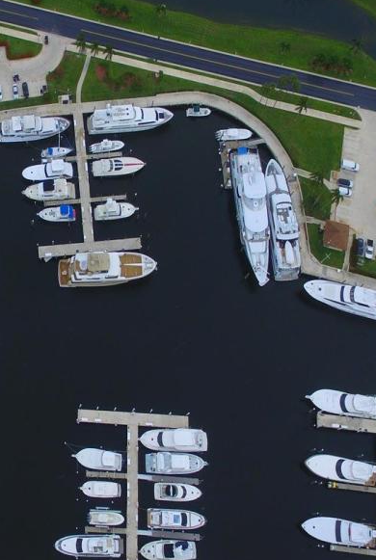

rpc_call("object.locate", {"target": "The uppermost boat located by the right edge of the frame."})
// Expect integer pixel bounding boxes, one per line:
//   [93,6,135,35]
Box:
[305,282,376,318]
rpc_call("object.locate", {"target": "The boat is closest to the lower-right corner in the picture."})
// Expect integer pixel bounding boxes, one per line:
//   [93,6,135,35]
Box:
[303,514,376,548]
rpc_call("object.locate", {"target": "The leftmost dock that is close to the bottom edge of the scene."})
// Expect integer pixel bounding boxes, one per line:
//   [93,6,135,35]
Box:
[78,409,200,560]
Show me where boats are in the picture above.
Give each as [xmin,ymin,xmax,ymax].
[306,391,376,418]
[137,427,209,452]
[0,116,71,146]
[79,481,121,498]
[215,130,252,142]
[86,508,124,525]
[183,108,211,119]
[23,157,75,182]
[137,540,198,560]
[145,452,208,474]
[35,204,76,222]
[306,452,376,488]
[143,509,207,530]
[305,282,376,318]
[94,202,141,222]
[91,152,146,178]
[56,253,163,289]
[55,532,124,557]
[303,514,376,548]
[86,106,174,135]
[19,182,76,202]
[266,157,299,289]
[41,135,73,159]
[87,142,124,154]
[69,447,122,471]
[154,482,202,501]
